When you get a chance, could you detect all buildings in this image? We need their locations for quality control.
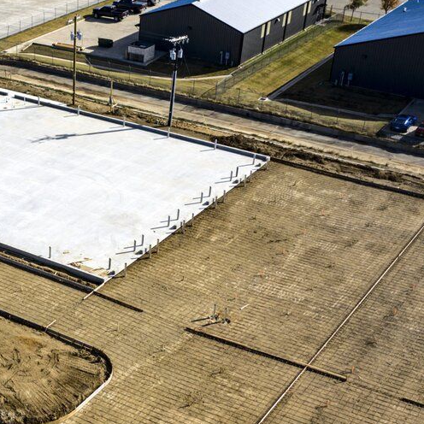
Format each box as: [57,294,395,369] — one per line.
[127,0,334,65]
[328,0,424,99]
